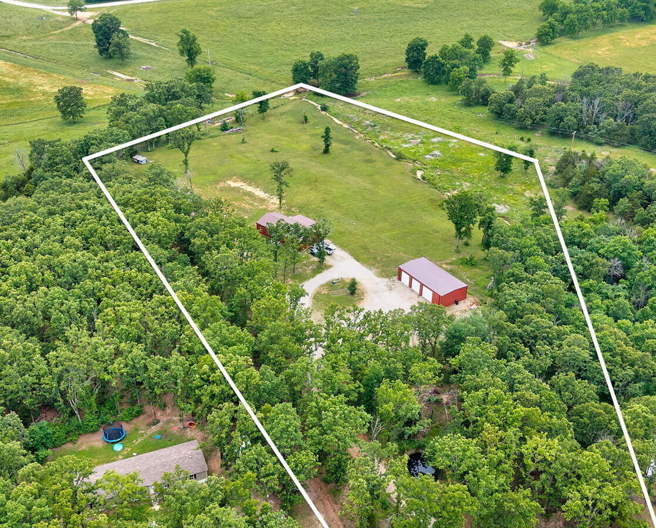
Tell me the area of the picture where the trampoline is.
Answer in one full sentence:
You can find the trampoline in the bottom left area of the picture.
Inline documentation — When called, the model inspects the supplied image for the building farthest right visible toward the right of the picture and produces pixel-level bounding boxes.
[397,257,468,309]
